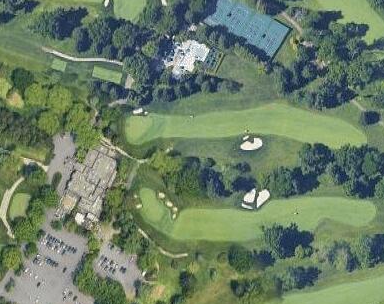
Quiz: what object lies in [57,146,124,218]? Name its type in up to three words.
building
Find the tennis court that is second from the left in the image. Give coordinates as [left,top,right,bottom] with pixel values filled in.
[224,2,257,44]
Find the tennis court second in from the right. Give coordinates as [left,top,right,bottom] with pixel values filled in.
[242,11,274,52]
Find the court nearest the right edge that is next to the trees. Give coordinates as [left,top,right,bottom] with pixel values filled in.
[258,19,290,60]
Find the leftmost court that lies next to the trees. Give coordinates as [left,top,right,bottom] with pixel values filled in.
[207,0,239,35]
